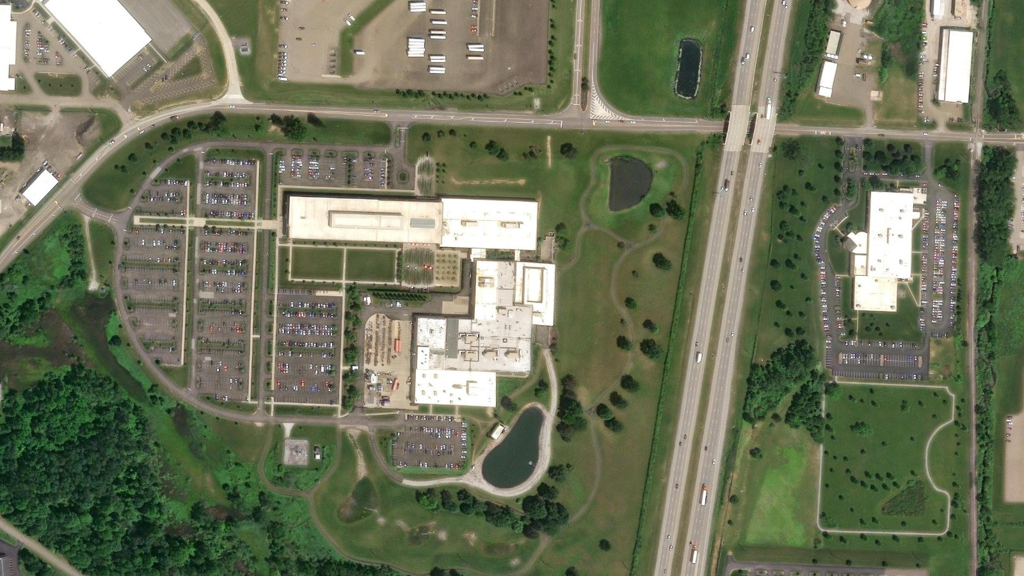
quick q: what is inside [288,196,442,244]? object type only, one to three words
building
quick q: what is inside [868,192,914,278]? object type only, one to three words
building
